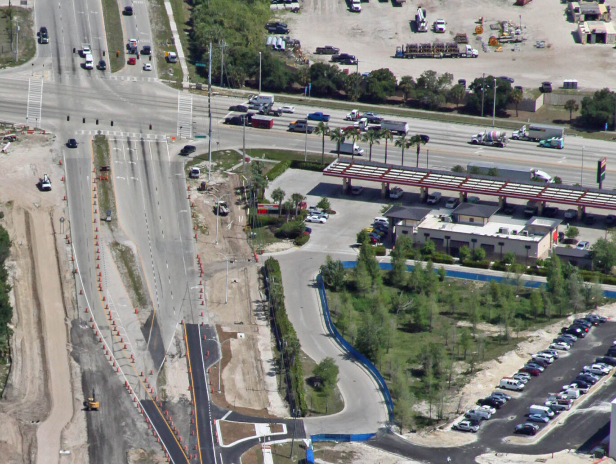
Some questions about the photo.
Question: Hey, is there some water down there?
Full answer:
No, there's no water in this view.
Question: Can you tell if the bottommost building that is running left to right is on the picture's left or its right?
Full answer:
The bottommost building that is running left to right sits on the right side.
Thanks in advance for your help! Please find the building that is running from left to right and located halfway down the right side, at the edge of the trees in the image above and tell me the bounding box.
[388,194,561,262]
